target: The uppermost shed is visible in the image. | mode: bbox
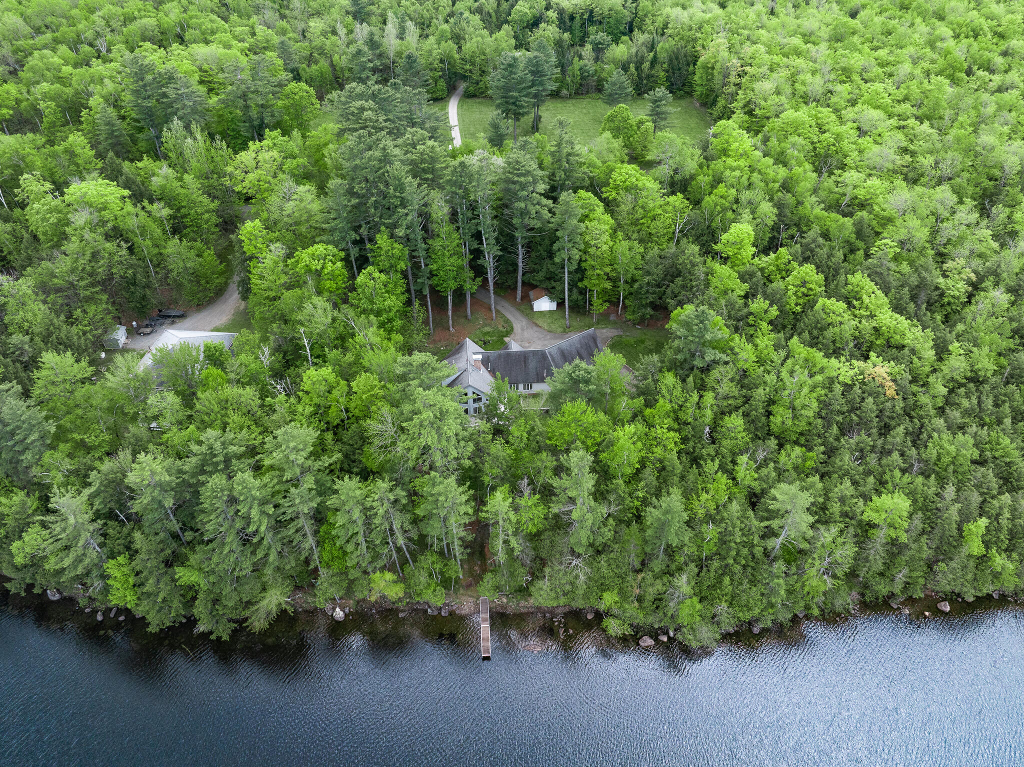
[529,282,561,312]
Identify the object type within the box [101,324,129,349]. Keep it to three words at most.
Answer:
shed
